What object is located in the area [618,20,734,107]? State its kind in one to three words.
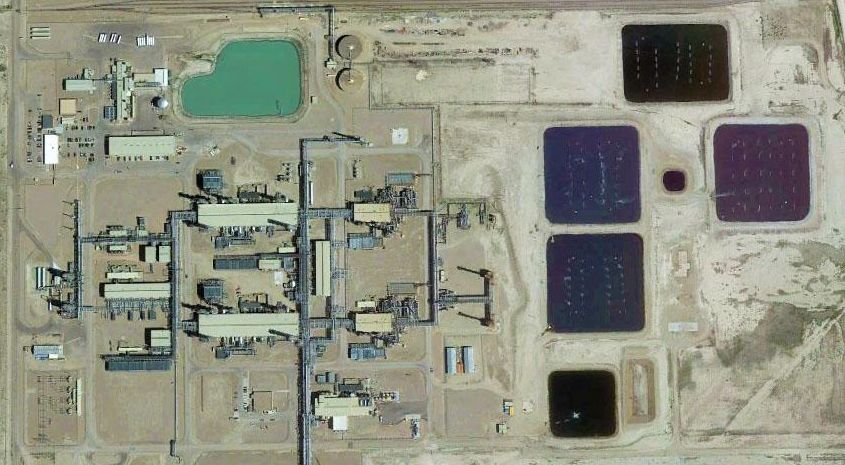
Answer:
pond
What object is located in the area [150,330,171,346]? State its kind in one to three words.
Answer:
building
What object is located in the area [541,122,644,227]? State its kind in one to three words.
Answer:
pond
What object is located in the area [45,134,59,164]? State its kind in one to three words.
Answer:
building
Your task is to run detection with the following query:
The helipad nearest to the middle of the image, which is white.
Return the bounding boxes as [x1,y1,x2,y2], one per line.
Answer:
[392,129,408,144]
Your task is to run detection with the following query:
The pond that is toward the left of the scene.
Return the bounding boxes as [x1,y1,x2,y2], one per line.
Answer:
[177,36,304,121]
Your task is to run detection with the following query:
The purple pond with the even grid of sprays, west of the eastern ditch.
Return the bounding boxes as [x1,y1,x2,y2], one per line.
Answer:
[710,120,815,227]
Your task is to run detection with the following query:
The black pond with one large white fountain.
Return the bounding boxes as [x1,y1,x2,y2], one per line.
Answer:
[544,366,621,442]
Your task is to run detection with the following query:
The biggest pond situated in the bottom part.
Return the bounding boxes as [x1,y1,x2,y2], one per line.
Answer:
[543,230,649,336]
